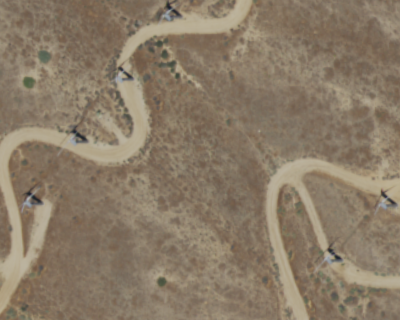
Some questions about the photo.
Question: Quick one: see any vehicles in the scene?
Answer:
No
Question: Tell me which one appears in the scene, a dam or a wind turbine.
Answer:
wind turbine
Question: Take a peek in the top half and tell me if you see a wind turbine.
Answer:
Yes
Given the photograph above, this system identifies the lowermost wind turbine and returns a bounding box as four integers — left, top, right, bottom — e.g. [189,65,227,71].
[316,246,344,270]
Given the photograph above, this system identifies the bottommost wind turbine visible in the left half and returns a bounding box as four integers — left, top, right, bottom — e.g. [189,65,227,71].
[18,184,44,212]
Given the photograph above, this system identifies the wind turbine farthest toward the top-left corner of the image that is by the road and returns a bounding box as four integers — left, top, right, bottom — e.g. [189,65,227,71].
[112,60,135,86]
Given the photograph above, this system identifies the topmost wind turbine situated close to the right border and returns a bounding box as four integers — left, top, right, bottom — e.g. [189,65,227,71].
[374,188,398,216]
